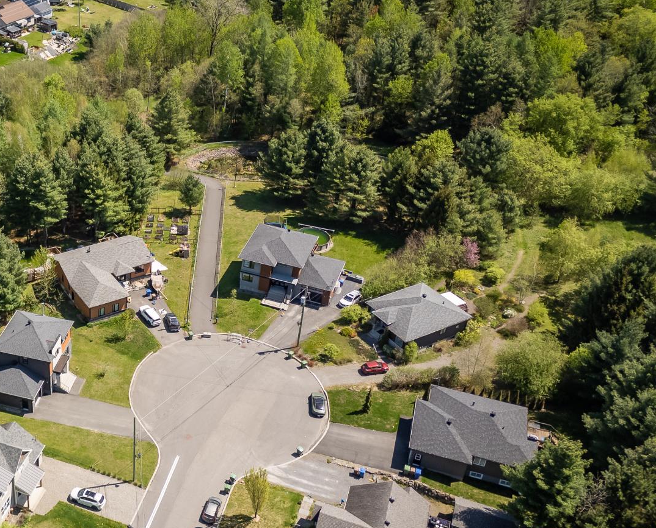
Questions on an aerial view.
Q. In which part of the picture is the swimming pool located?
center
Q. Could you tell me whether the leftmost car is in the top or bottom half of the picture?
bottom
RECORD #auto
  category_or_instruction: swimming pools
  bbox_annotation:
[301,222,339,247]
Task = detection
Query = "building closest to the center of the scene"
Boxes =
[237,222,343,310]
